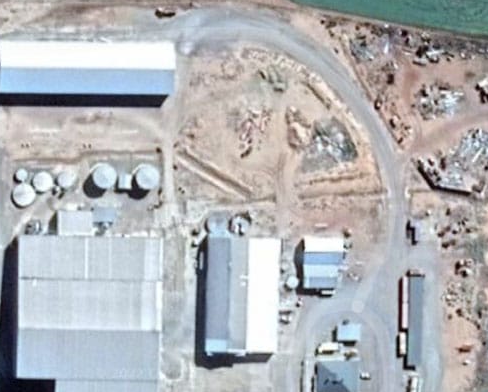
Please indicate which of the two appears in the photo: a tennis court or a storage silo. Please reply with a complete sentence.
Looking from above, you can make out a storage silo.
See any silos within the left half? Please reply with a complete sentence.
Yes, within the left half there is a silo.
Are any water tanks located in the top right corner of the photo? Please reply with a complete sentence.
No, I can find no water tank in the top right corner of the photo.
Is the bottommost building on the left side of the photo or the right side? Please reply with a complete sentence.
The bottommost building sits on the right side.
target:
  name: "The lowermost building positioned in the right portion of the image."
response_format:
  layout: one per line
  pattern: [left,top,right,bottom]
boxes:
[316,361,358,392]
